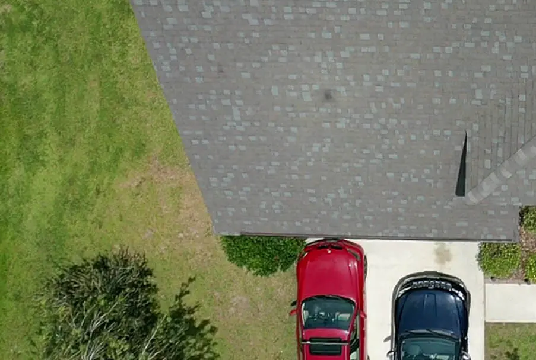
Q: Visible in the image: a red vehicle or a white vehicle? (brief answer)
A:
red vehicle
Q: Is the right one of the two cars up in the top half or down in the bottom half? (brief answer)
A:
bottom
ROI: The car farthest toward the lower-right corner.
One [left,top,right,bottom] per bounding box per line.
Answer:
[386,274,473,360]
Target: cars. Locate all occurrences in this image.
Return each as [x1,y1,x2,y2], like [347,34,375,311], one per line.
[386,274,473,360]
[284,240,367,360]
